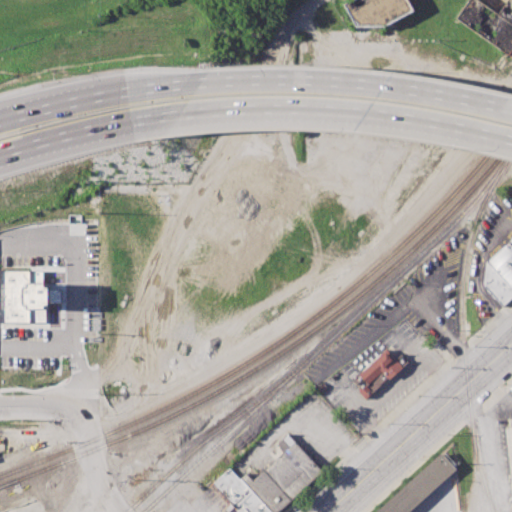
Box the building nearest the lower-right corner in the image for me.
[379,454,458,512]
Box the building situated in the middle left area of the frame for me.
[4,271,62,323]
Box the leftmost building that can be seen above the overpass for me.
[344,0,414,30]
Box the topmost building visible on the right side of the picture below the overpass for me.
[482,246,512,304]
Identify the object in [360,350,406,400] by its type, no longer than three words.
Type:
building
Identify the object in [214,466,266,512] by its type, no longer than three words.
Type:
building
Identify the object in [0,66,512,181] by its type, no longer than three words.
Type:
overpass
